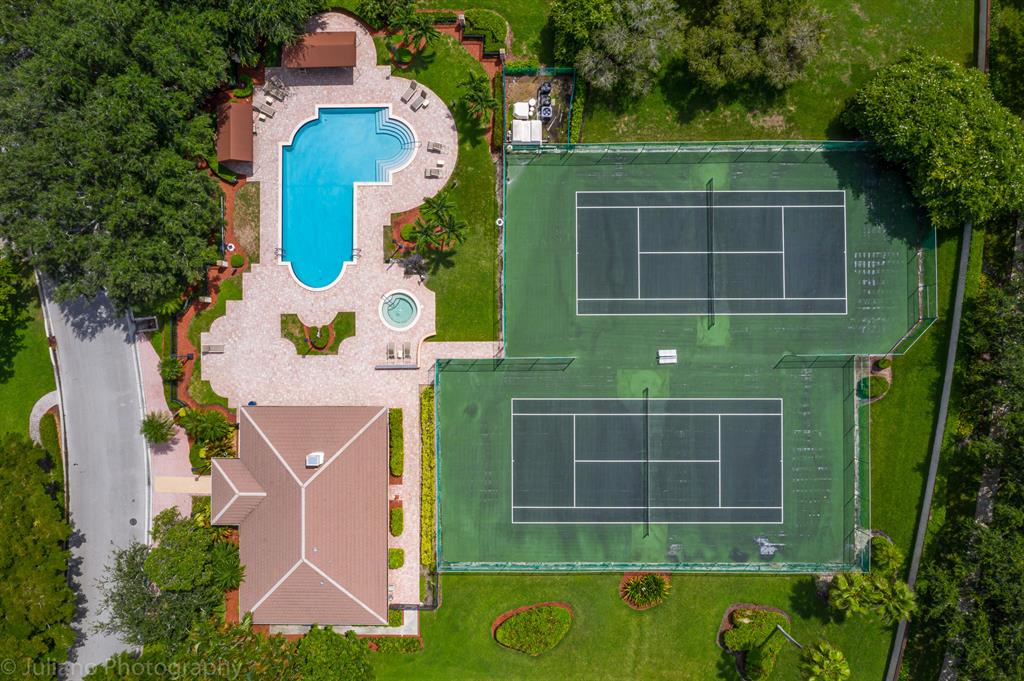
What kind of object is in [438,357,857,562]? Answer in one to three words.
tennis court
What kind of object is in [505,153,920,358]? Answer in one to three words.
tennis court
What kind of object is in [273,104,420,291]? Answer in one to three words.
swimming pool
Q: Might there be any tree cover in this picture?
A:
Yes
